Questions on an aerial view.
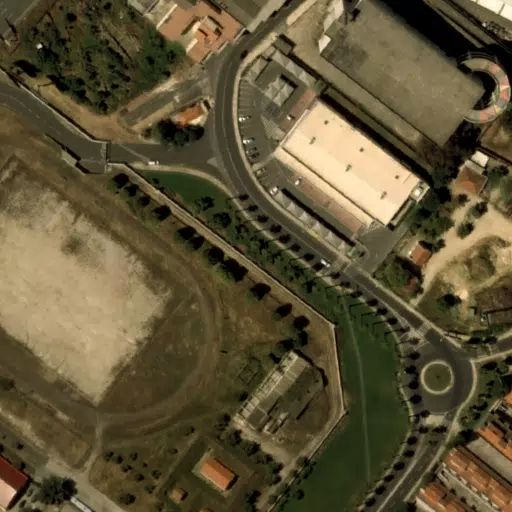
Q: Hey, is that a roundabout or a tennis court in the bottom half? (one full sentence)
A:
The feature located in the bottom half is a roundabout.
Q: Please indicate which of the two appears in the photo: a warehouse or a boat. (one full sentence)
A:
It is a warehouse that can be seen here.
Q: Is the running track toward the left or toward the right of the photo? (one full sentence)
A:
The running track is on the left side of the image.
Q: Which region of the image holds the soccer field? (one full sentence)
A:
You can find the soccer field in the left area of the picture.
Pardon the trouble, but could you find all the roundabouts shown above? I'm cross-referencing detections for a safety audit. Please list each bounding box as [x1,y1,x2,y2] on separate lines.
[404,344,471,410]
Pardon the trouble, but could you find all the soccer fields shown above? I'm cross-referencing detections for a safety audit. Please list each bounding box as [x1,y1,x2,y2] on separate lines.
[0,155,169,407]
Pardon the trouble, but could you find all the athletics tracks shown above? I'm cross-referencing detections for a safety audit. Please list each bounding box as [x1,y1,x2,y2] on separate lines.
[0,116,226,435]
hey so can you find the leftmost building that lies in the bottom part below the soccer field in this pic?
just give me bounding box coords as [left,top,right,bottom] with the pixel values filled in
[0,455,32,508]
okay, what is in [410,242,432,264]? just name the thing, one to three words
shed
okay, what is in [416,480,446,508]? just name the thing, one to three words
house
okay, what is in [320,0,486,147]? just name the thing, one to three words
building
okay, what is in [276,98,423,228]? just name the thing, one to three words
warehouse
